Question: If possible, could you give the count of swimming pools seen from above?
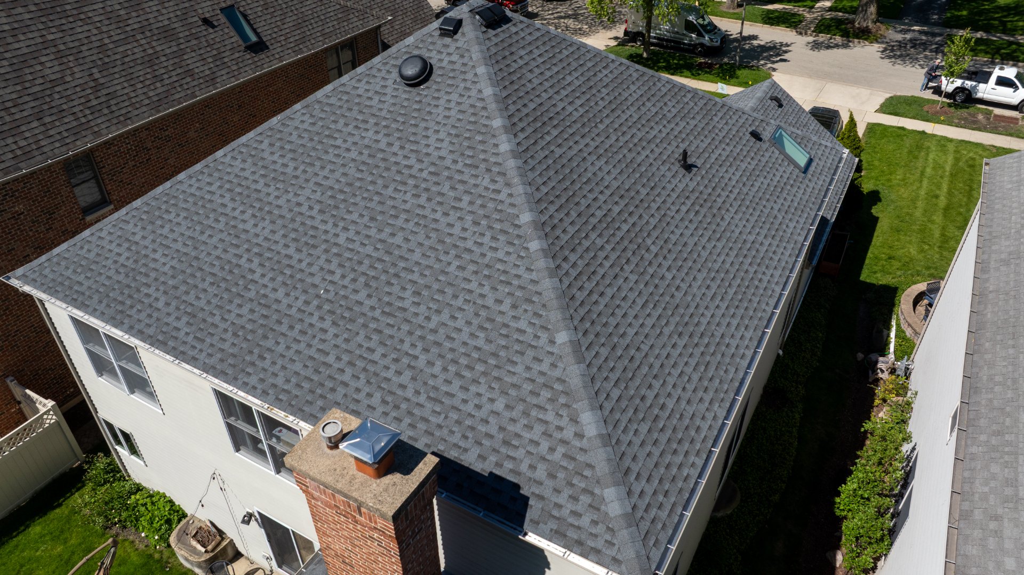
0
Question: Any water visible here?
No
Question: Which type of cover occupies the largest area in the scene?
buildings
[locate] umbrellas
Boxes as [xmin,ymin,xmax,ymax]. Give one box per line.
[67,536,118,575]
